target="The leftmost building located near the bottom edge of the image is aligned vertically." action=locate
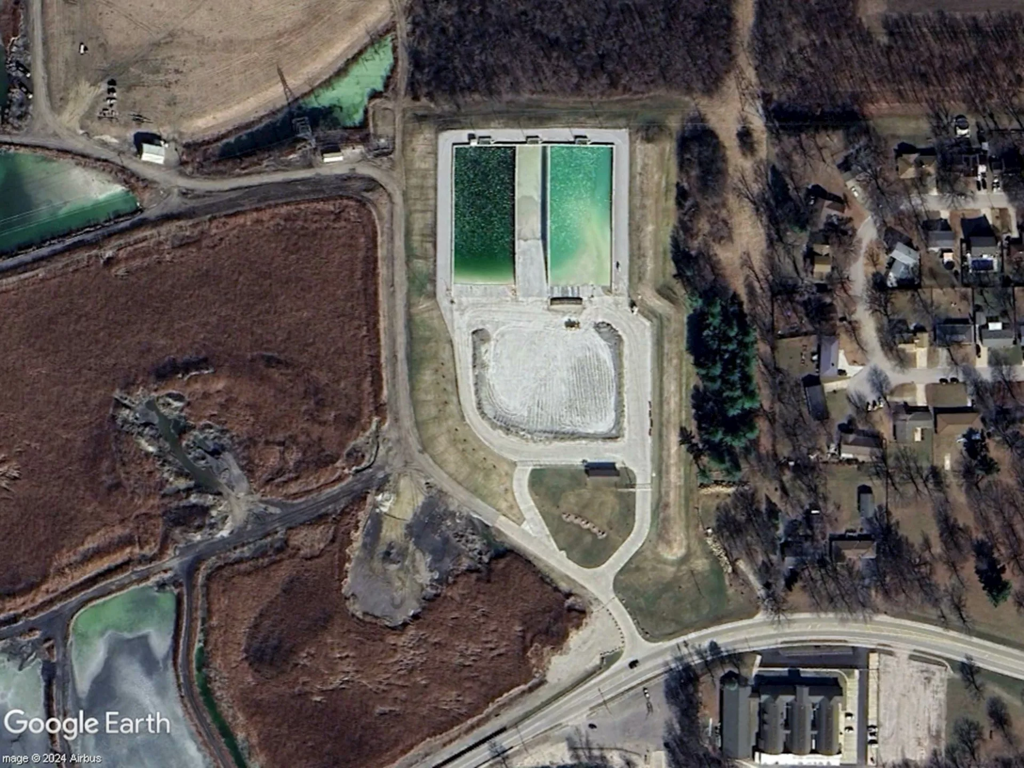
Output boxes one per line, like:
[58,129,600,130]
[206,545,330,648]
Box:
[722,682,758,761]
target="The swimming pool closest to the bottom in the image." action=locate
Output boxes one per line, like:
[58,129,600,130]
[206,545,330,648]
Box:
[970,258,994,271]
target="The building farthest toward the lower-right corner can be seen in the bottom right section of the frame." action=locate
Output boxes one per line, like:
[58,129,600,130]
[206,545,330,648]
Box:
[759,679,843,755]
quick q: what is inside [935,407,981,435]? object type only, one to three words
house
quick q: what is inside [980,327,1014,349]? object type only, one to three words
house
